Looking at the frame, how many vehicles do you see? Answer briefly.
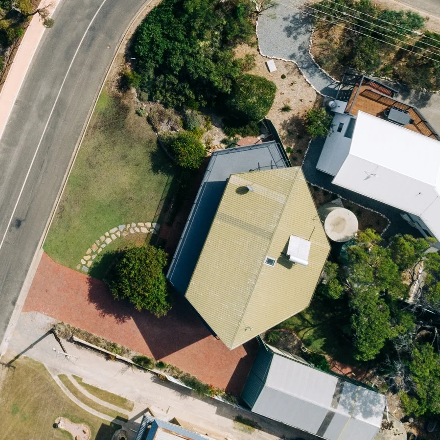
0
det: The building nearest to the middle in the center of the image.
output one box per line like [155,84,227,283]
[159,136,331,350]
